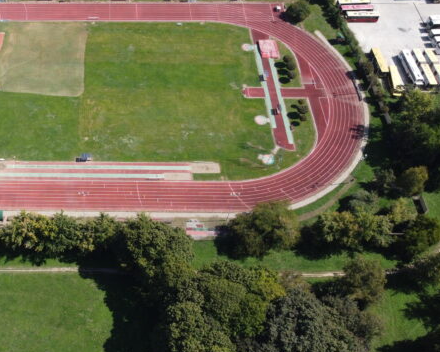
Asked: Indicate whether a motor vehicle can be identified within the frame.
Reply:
Yes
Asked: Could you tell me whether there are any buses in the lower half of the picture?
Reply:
No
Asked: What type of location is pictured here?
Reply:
sports ground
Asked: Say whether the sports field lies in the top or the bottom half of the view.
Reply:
top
